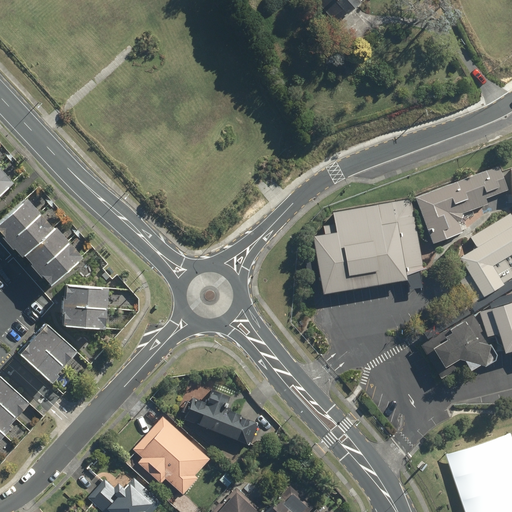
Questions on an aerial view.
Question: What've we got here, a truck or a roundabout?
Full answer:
There is a roundabout in the scene.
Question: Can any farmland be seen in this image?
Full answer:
Yes, there is farmland in the image.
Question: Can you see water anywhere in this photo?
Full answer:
No, there's no water in this view.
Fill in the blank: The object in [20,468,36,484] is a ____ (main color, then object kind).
white car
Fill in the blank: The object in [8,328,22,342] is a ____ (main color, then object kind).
blue car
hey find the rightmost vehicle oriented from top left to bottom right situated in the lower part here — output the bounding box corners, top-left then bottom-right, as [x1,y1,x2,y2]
[256,414,272,430]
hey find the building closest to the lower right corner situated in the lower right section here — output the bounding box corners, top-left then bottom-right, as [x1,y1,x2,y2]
[447,434,512,512]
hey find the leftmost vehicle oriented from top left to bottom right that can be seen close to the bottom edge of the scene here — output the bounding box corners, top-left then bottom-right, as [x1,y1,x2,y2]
[77,474,92,489]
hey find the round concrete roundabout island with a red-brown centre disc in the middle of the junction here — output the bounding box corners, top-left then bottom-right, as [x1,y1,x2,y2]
[186,272,234,319]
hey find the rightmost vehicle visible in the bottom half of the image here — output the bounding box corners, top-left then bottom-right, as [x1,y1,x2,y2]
[383,400,398,418]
